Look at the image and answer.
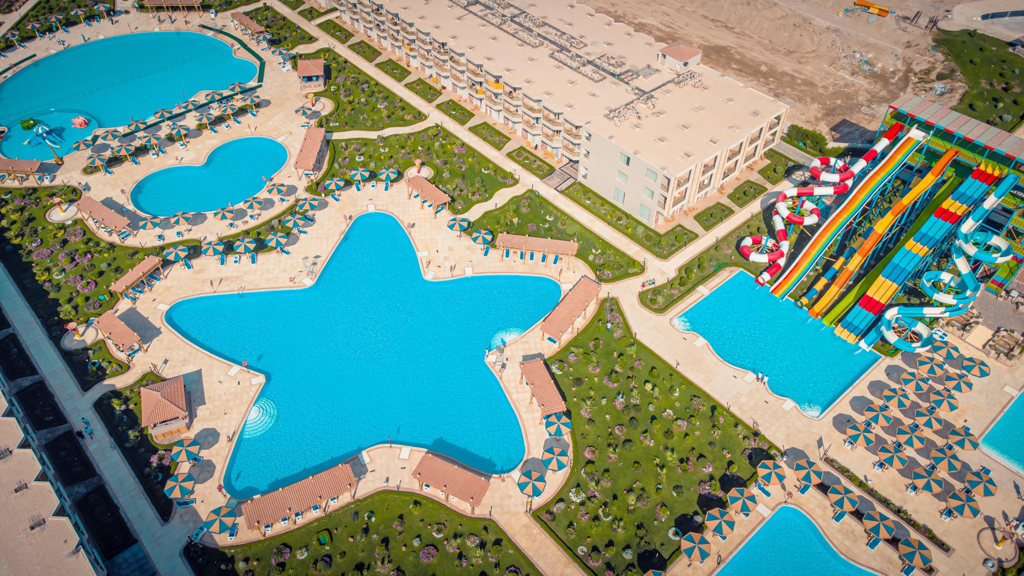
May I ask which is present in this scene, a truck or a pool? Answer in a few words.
pool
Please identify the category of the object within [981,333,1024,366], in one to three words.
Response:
fountain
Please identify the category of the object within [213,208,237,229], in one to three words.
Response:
umbrella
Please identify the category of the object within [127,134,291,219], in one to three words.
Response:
swimming pool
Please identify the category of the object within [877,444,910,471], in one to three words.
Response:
umbrella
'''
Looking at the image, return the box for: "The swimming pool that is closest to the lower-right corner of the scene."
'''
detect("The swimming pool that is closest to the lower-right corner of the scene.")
[976,388,1024,482]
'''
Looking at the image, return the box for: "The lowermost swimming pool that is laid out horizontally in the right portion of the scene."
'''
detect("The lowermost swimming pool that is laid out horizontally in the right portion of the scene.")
[706,501,891,576]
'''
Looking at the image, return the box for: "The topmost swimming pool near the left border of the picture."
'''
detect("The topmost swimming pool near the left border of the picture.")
[0,29,259,163]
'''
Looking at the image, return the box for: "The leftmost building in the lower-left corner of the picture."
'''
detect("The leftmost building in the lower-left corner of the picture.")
[0,381,107,576]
